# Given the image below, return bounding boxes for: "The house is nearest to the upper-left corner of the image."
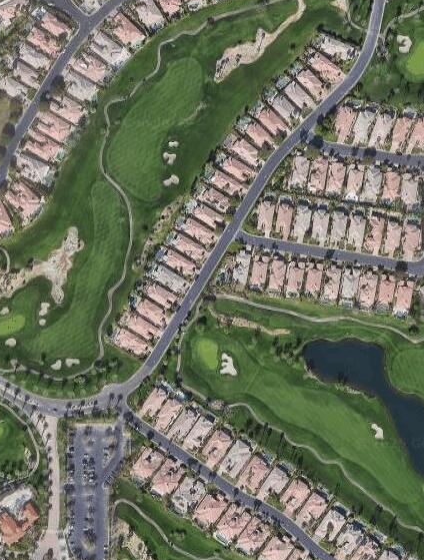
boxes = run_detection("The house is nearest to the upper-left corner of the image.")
[0,0,29,24]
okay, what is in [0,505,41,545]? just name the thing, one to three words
building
